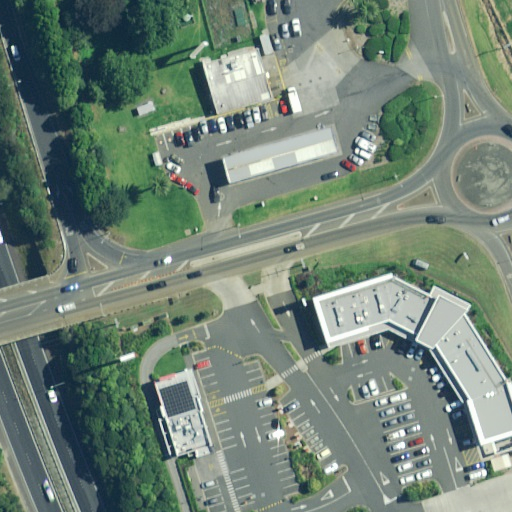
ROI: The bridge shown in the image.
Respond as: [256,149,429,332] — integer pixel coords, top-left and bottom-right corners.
[0,272,62,346]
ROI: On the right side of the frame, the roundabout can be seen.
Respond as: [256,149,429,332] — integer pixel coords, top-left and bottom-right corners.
[432,118,512,232]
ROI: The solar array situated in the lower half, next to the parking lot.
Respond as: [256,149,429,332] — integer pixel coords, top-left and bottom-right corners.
[160,382,194,418]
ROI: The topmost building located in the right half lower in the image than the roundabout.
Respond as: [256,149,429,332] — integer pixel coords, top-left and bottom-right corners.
[313,273,512,460]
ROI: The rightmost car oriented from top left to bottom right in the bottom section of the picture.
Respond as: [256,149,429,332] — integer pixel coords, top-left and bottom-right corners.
[392,340,404,356]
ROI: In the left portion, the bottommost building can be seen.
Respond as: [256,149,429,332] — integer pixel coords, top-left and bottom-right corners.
[154,368,212,458]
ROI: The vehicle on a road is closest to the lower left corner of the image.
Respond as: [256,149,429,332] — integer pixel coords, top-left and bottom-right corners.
[43,479,56,501]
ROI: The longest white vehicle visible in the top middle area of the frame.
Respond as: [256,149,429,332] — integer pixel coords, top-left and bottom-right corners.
[287,86,302,116]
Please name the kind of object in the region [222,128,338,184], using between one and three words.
shed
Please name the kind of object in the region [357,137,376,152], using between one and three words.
vehicle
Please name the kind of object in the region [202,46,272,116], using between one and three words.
building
